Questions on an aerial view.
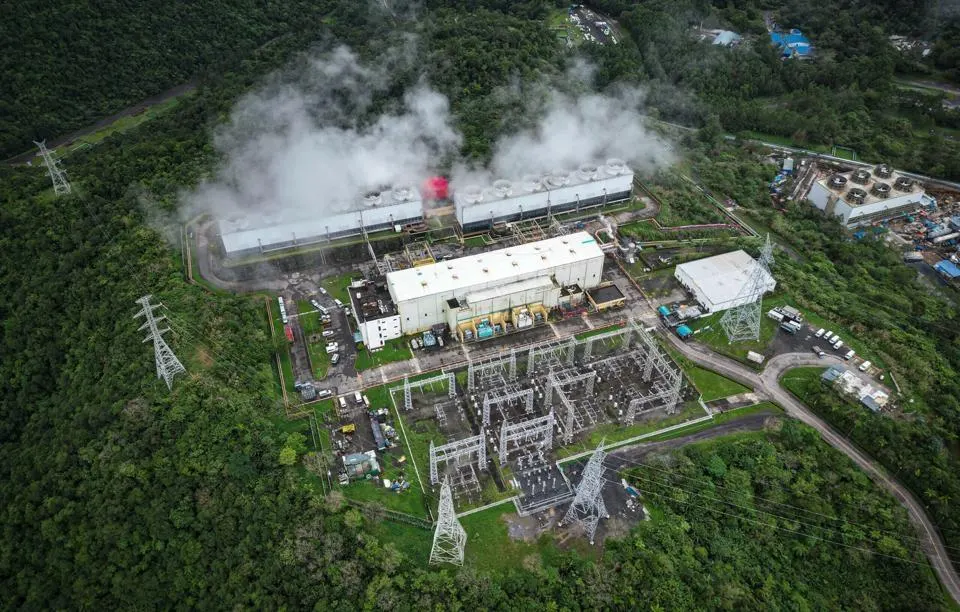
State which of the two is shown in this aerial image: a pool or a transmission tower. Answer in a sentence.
Visible in the photo is a transmission tower.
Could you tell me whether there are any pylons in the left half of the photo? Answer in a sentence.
Yes, a pylon can be seen in the left half of the photo.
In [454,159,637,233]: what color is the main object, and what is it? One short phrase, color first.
white cooling tower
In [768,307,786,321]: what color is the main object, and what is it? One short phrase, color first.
white vehicle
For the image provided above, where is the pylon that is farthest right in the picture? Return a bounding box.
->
[716,232,772,344]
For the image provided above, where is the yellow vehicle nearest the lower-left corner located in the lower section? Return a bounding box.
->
[327,422,354,435]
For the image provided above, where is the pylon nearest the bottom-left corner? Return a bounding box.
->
[135,294,186,379]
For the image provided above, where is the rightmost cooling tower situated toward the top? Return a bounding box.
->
[802,166,926,232]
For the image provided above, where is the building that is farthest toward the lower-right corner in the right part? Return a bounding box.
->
[817,360,891,411]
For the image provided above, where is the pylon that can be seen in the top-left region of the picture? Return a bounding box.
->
[38,142,71,190]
